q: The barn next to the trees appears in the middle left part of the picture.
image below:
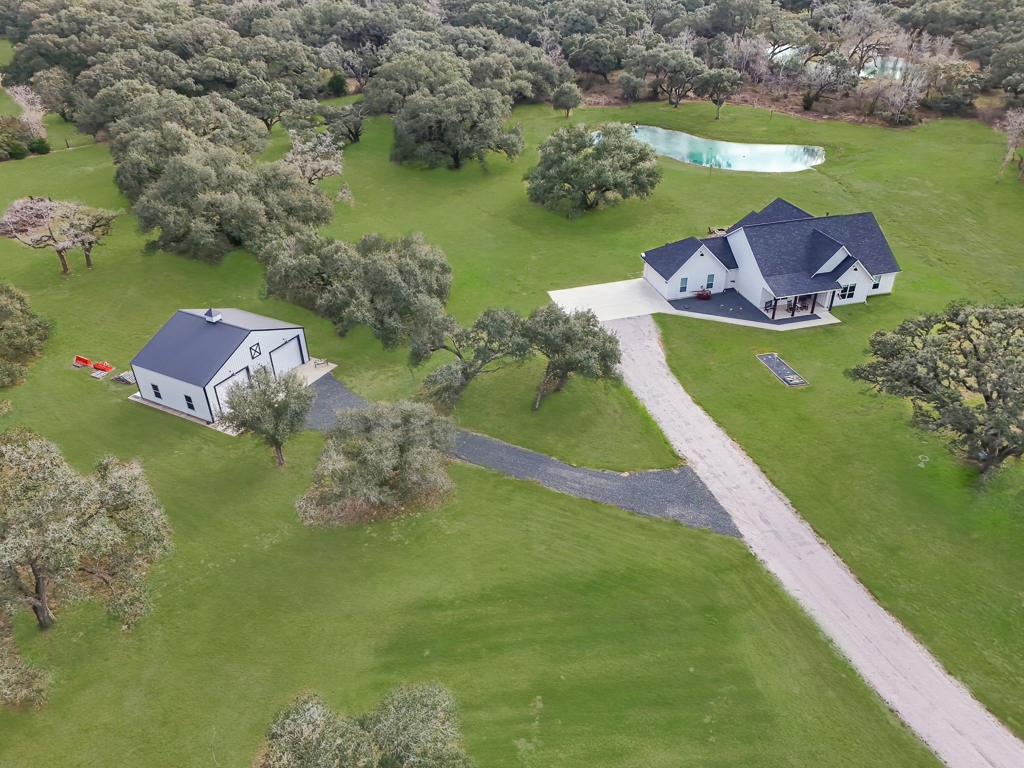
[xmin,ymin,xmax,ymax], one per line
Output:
[129,308,310,423]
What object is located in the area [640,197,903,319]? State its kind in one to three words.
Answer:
house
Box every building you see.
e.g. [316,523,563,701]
[129,308,310,423]
[640,197,903,319]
